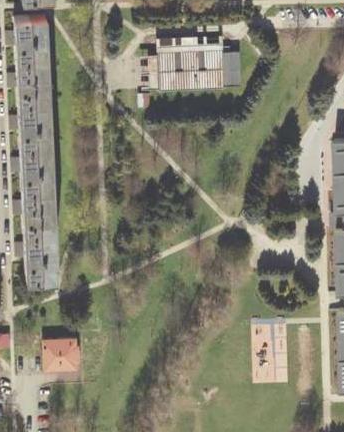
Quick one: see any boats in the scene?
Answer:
No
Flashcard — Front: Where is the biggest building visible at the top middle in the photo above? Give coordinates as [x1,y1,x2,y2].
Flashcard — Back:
[139,36,240,90]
